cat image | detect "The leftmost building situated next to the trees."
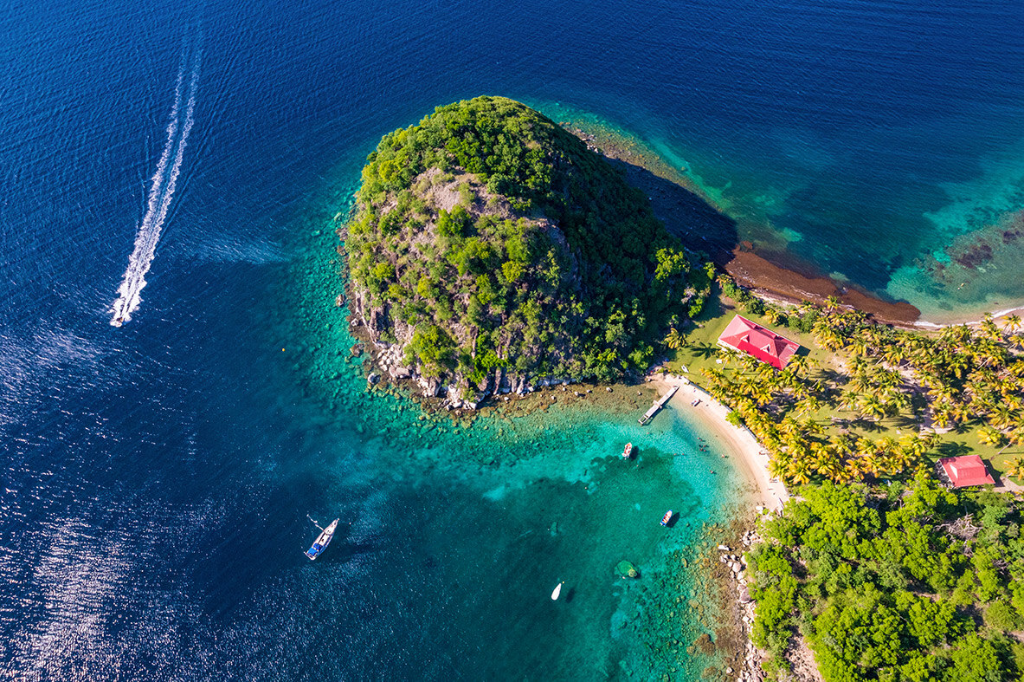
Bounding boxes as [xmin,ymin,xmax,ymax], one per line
[716,315,799,377]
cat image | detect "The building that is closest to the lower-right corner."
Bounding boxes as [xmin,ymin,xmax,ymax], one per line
[934,454,996,491]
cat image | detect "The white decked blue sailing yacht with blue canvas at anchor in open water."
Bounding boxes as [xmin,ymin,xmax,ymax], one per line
[299,506,340,562]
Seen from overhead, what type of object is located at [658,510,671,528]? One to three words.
boat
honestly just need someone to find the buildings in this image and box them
[716,315,799,377]
[934,454,996,491]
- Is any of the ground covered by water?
Yes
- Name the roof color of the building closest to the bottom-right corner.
red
